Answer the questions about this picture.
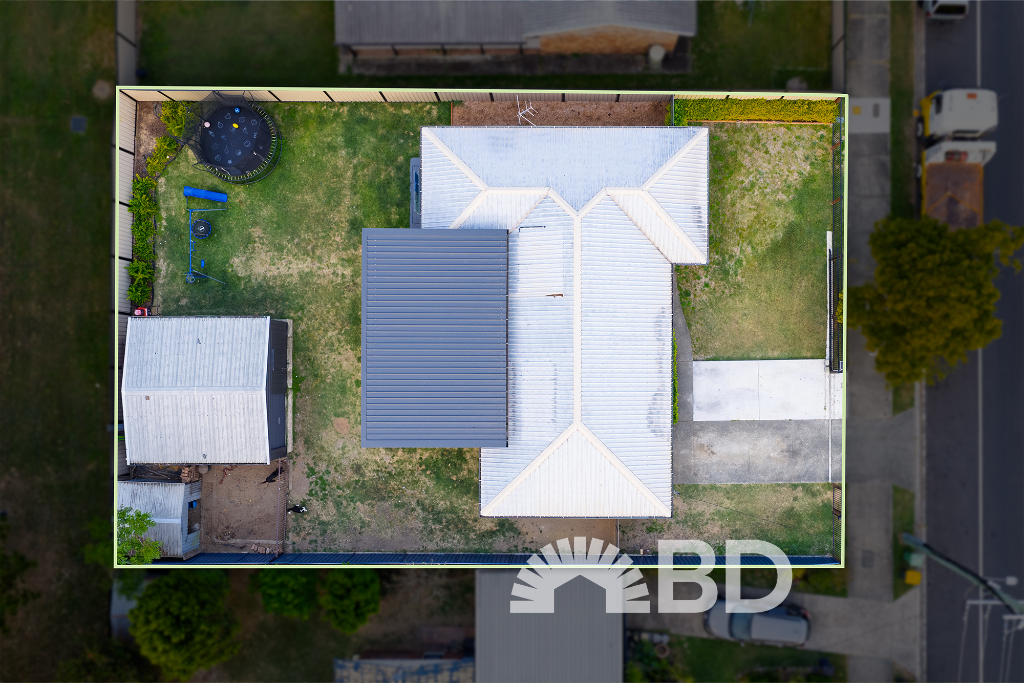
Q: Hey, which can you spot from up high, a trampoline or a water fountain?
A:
trampoline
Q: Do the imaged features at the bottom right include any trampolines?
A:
No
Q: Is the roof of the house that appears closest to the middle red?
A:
No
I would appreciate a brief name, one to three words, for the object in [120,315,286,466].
shed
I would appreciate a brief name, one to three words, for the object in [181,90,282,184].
trampoline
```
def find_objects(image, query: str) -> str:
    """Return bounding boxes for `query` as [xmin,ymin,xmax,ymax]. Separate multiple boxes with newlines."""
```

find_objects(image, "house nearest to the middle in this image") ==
[418,123,711,520]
